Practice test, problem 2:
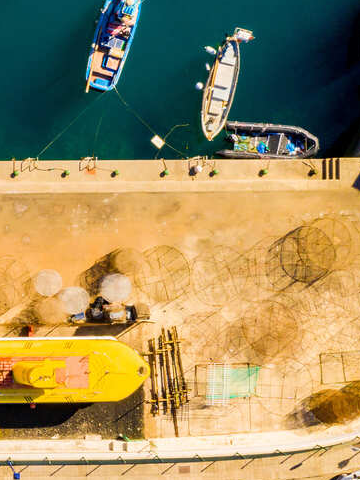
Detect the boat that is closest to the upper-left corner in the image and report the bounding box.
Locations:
[85,0,143,94]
